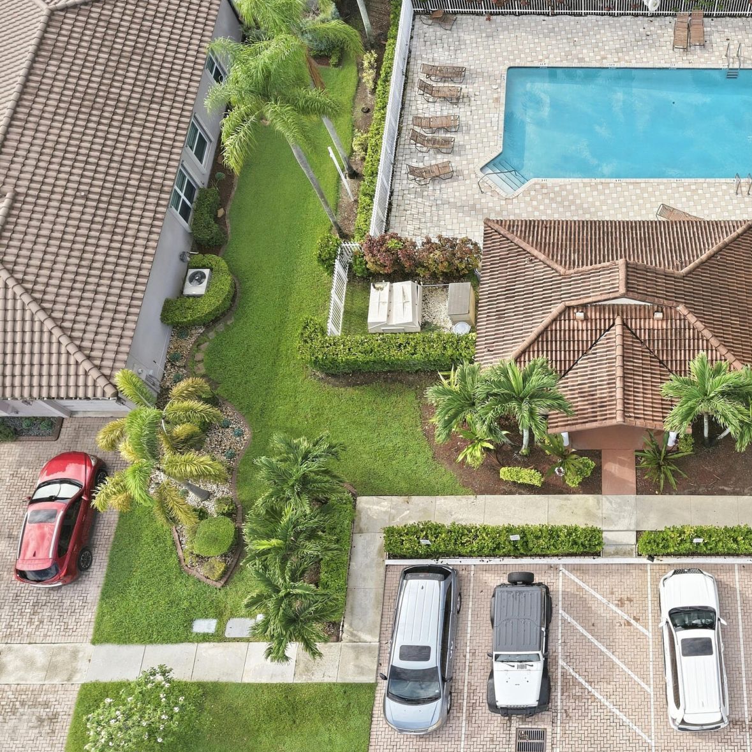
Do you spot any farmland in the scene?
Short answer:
No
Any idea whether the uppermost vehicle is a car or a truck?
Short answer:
car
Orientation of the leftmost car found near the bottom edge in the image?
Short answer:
from top to bottom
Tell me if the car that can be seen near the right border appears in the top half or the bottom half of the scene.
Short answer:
bottom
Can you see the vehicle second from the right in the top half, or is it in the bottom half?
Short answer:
bottom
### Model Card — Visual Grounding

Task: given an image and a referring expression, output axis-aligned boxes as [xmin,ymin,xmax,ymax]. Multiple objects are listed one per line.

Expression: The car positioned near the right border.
[659,564,733,735]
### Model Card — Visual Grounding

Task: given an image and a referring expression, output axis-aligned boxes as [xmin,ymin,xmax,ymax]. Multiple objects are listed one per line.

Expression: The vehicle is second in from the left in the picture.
[378,562,464,738]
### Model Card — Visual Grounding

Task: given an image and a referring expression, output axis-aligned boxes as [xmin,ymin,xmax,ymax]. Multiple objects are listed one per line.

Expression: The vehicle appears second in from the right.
[482,562,554,722]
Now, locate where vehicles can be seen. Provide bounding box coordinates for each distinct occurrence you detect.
[482,562,554,722]
[6,452,111,592]
[659,564,733,735]
[378,562,464,738]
